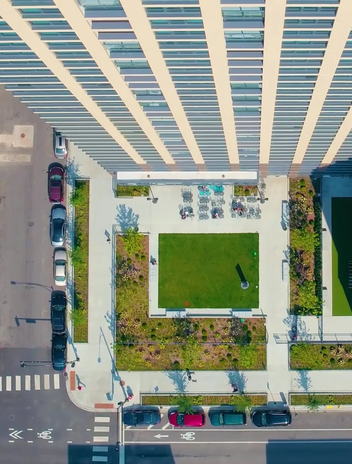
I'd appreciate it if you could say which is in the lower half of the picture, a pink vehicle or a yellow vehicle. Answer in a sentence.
Visible in the lower half of the picture is a pink vehicle.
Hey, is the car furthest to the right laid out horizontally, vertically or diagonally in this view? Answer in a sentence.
Seen from above, the car furthest to the right lies horizontally.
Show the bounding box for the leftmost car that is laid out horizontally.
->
[122,409,161,428]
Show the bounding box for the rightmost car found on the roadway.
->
[251,409,293,429]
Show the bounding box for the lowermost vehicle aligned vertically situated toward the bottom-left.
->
[49,332,68,371]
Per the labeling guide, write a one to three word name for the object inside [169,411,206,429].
car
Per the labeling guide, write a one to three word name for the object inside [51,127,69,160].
car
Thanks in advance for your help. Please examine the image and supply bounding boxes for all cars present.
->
[122,409,161,428]
[49,332,68,371]
[251,409,293,429]
[49,290,69,334]
[46,162,66,202]
[49,205,68,247]
[50,248,69,286]
[169,411,206,429]
[51,127,69,160]
[209,409,247,429]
